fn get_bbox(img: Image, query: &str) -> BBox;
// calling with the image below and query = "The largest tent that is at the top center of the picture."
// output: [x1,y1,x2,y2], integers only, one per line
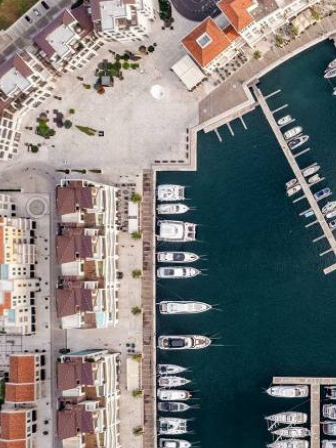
[170,55,205,91]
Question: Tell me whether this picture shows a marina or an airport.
marina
